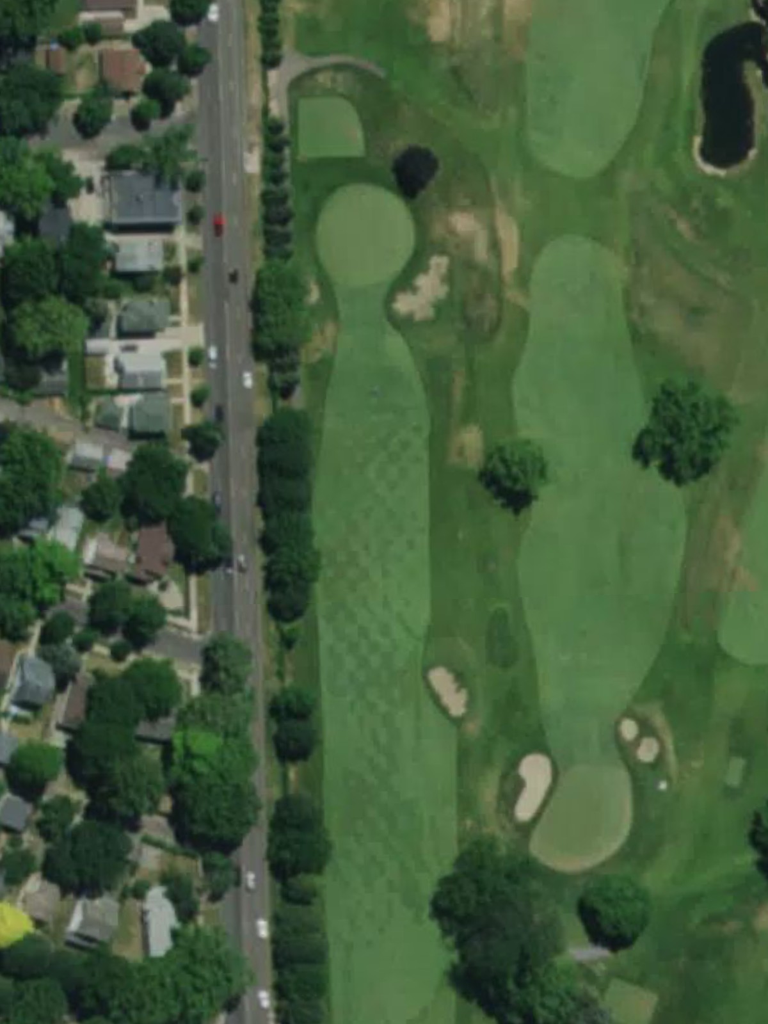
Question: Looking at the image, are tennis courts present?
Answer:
No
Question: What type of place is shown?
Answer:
golf course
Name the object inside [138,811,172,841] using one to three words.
building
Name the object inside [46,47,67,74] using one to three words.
shed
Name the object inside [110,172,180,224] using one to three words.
house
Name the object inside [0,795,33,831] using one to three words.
building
